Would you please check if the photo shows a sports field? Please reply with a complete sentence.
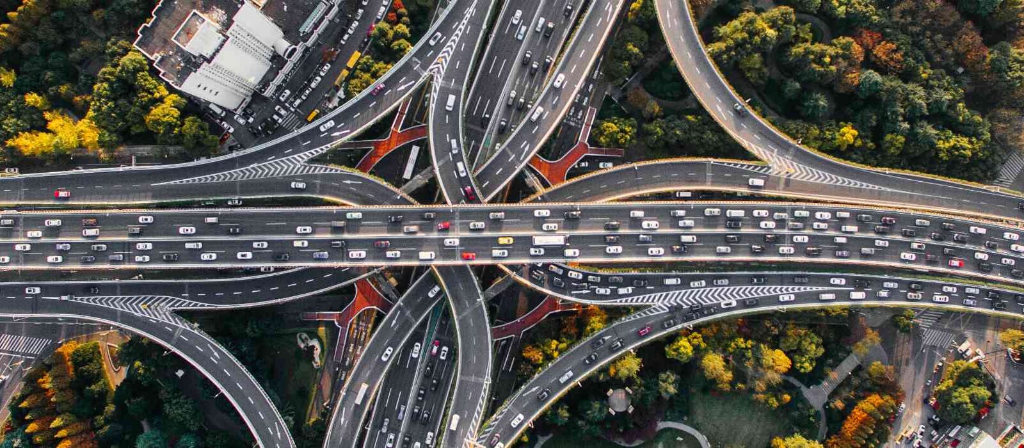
No, no sports field can be seen from above.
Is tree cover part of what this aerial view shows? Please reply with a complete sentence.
Yes, there's tree cover in this view.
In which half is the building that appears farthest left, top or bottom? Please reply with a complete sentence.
You can find the building that appears farthest left in the top half.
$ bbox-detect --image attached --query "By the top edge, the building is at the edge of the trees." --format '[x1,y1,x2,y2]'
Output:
[130,0,345,113]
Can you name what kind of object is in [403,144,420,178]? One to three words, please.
vehicle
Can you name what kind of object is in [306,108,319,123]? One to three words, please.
vehicle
